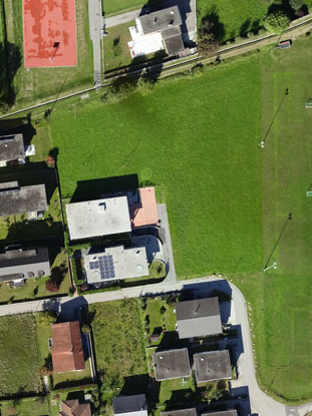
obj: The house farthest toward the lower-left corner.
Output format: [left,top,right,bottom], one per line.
[59,394,92,416]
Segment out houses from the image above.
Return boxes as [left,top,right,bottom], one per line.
[59,394,92,416]
[175,296,224,339]
[66,196,133,240]
[113,393,149,416]
[0,181,50,216]
[49,320,86,373]
[202,409,238,416]
[84,246,150,283]
[128,7,185,59]
[160,407,198,416]
[0,134,27,161]
[194,350,231,383]
[0,245,52,282]
[153,348,191,381]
